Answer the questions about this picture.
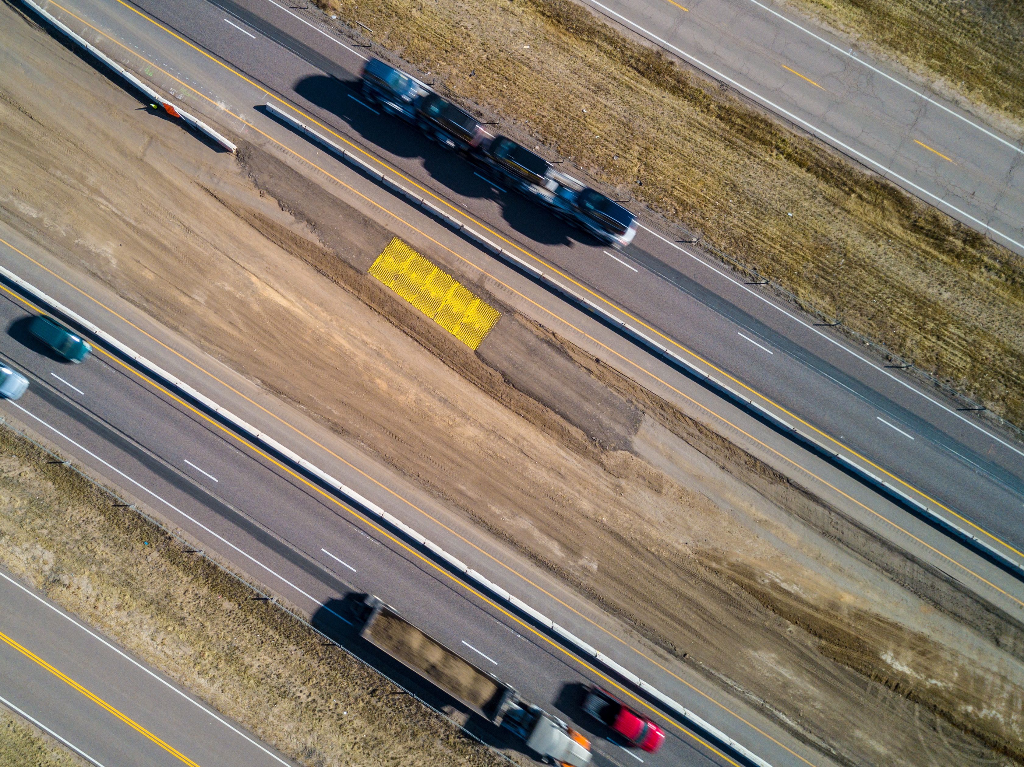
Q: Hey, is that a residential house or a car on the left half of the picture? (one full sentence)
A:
It is a car that can be seen on the left half of the picture.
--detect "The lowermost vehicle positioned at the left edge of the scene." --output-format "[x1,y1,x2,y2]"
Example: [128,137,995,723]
[0,358,34,401]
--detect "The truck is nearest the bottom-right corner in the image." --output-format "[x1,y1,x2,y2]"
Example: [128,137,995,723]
[576,681,665,753]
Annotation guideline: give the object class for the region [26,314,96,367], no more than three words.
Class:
car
